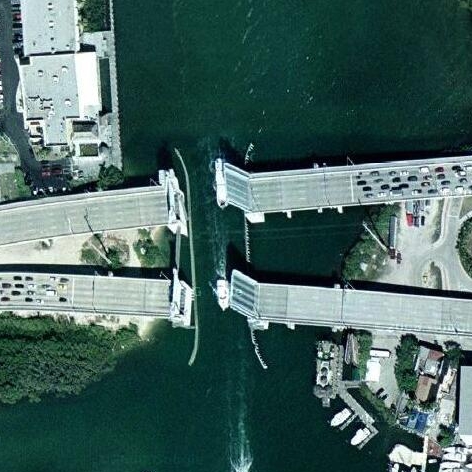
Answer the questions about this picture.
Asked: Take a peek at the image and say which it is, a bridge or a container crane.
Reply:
bridge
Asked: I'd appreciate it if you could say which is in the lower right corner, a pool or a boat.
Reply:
boat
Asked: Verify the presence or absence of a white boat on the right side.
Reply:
Yes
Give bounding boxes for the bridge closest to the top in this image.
[0,155,472,244]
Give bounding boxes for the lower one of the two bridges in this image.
[0,268,472,336]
